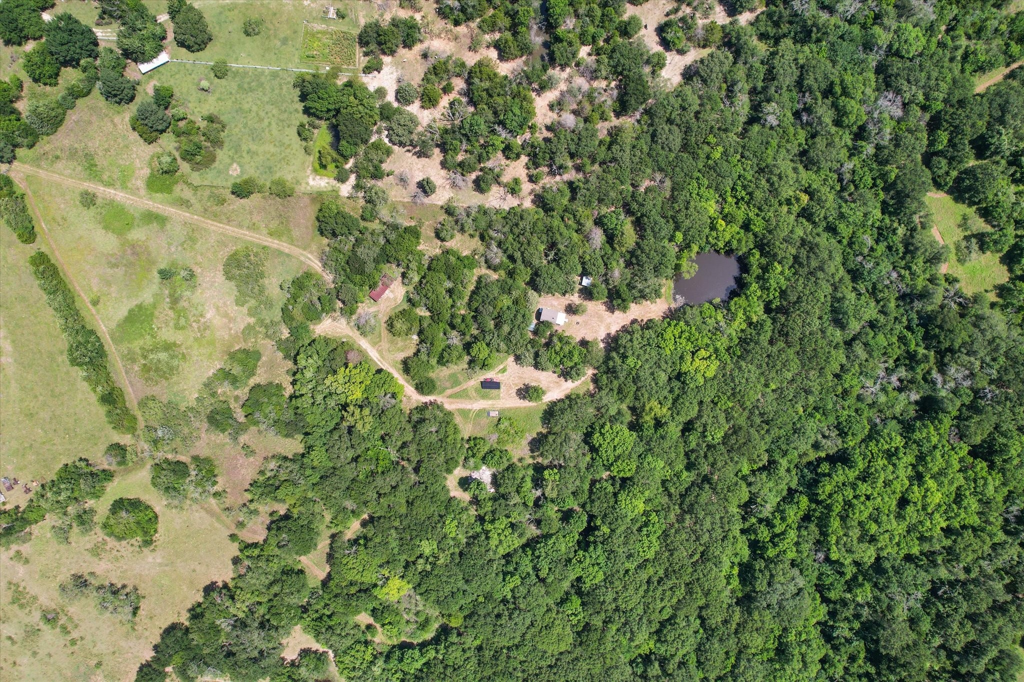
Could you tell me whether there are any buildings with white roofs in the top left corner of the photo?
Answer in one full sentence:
Yes, a building with a white roof can be seen in the top left corner of the photo.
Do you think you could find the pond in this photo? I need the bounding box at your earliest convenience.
[673,251,740,306]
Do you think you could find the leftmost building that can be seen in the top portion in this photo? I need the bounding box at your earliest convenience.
[138,51,172,76]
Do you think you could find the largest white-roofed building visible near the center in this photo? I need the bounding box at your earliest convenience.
[539,307,566,326]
